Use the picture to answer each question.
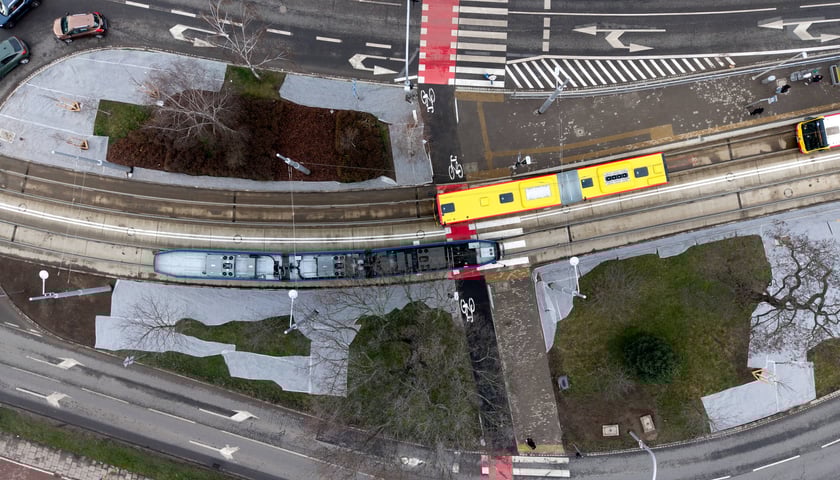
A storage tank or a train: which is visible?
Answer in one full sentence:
This aerial view contains a train.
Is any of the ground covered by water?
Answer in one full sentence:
No, water can't be seen anywhere here.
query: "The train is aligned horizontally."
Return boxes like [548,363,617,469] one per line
[156,237,502,280]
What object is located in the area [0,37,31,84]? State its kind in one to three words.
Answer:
car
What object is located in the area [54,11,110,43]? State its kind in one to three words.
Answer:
car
